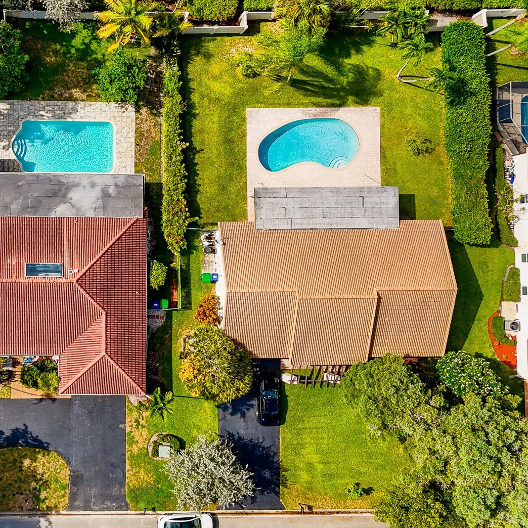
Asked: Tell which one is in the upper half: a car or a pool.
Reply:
pool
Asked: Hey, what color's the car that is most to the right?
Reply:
black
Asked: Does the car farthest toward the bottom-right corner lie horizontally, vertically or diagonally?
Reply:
vertically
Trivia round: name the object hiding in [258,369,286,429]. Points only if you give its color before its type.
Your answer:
black car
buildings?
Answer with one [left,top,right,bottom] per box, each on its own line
[215,186,459,367]
[0,173,148,395]
[515,147,528,389]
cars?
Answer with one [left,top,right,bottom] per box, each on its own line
[258,369,286,429]
[159,514,215,528]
